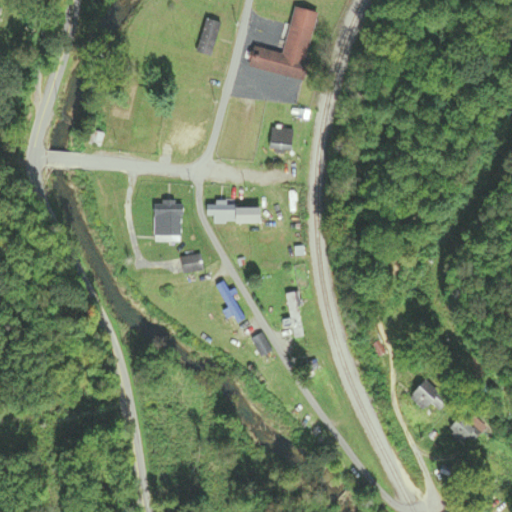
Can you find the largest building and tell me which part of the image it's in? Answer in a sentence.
Look in the top portion of the view to spot the largest building.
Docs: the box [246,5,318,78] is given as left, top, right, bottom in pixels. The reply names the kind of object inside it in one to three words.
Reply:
building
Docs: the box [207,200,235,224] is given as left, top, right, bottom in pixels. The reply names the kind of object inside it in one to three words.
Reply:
house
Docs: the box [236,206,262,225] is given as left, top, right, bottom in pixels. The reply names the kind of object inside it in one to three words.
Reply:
building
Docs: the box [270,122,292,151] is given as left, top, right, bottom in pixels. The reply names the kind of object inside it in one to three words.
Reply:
house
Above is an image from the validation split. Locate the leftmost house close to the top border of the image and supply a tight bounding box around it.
[196,17,220,54]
